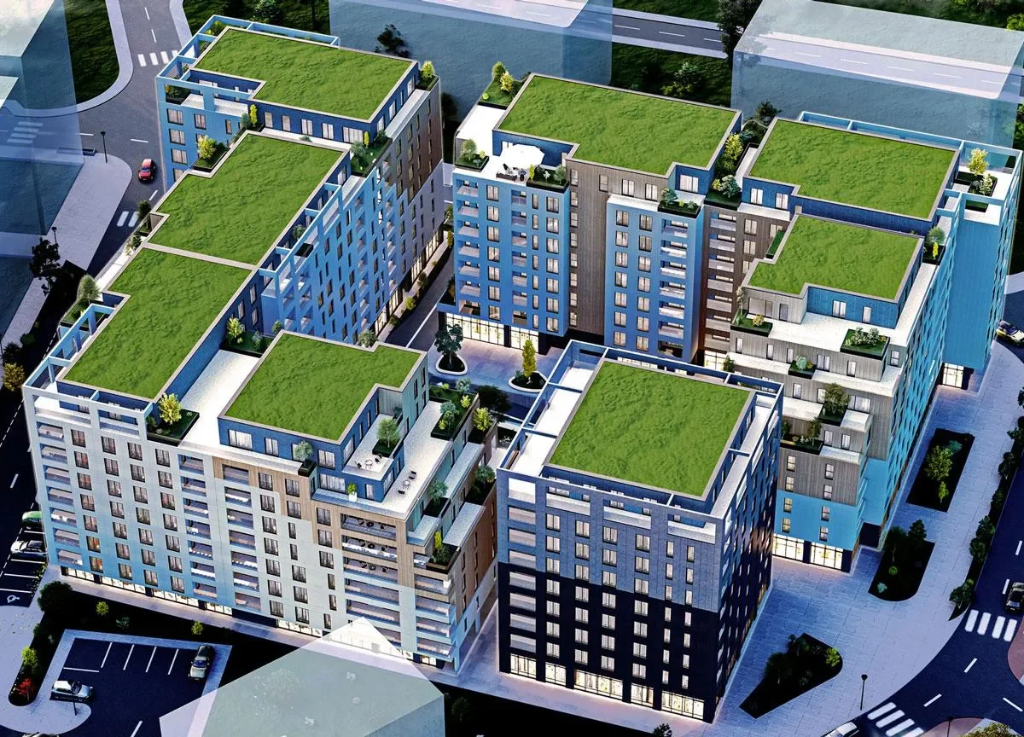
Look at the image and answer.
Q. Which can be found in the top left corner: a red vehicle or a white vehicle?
red vehicle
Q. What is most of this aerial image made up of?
buildings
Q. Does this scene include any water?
No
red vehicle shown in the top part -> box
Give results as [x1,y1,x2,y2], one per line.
[138,161,155,180]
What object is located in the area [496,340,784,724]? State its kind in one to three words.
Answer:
building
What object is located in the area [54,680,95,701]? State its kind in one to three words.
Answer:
car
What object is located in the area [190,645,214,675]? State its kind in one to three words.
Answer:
car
